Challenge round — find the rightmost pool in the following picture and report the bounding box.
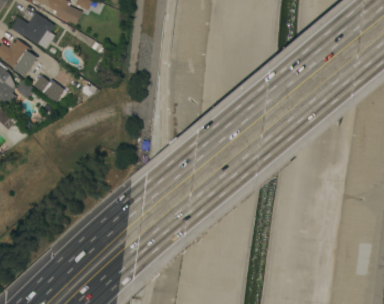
[64,48,80,66]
